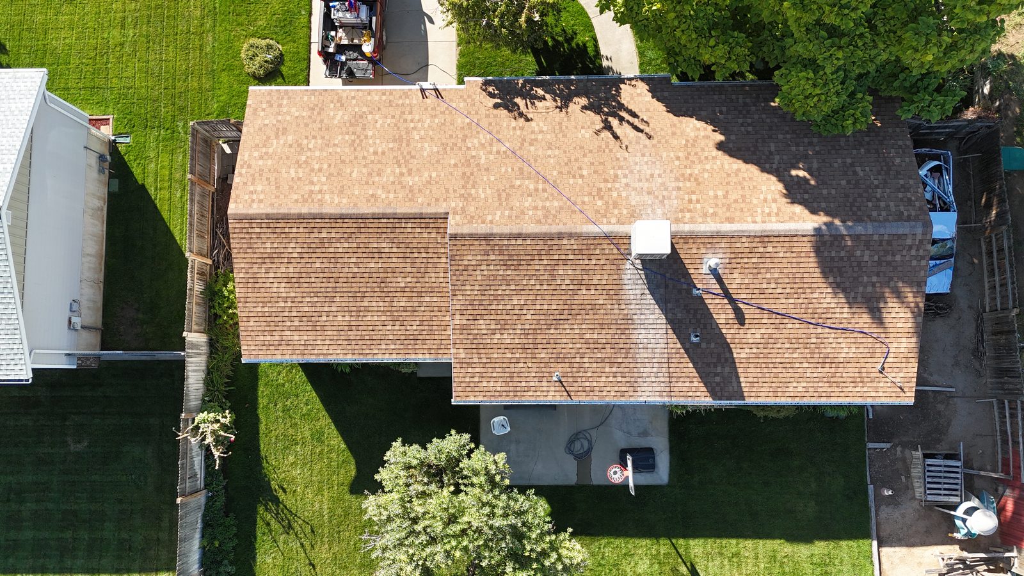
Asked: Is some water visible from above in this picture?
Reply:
No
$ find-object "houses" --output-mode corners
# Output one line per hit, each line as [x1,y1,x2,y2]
[228,71,932,409]
[0,65,118,387]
